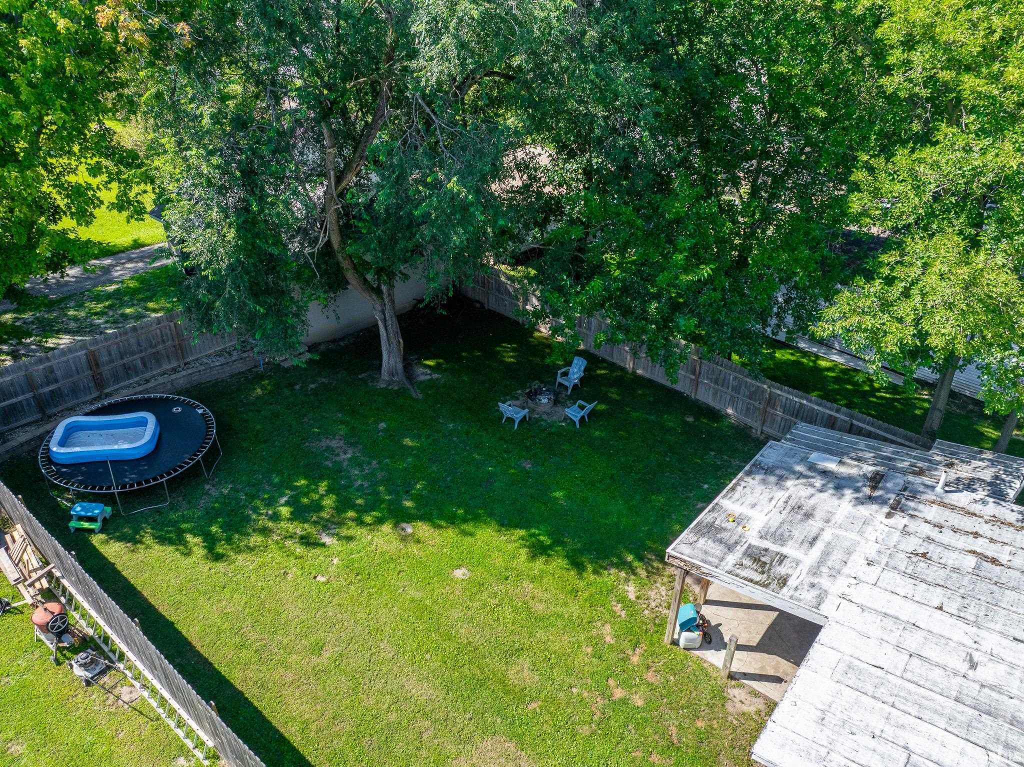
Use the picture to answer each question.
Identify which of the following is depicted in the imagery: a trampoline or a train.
trampoline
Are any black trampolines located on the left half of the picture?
Yes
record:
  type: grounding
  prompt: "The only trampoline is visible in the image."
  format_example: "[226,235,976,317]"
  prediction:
[40,394,222,518]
